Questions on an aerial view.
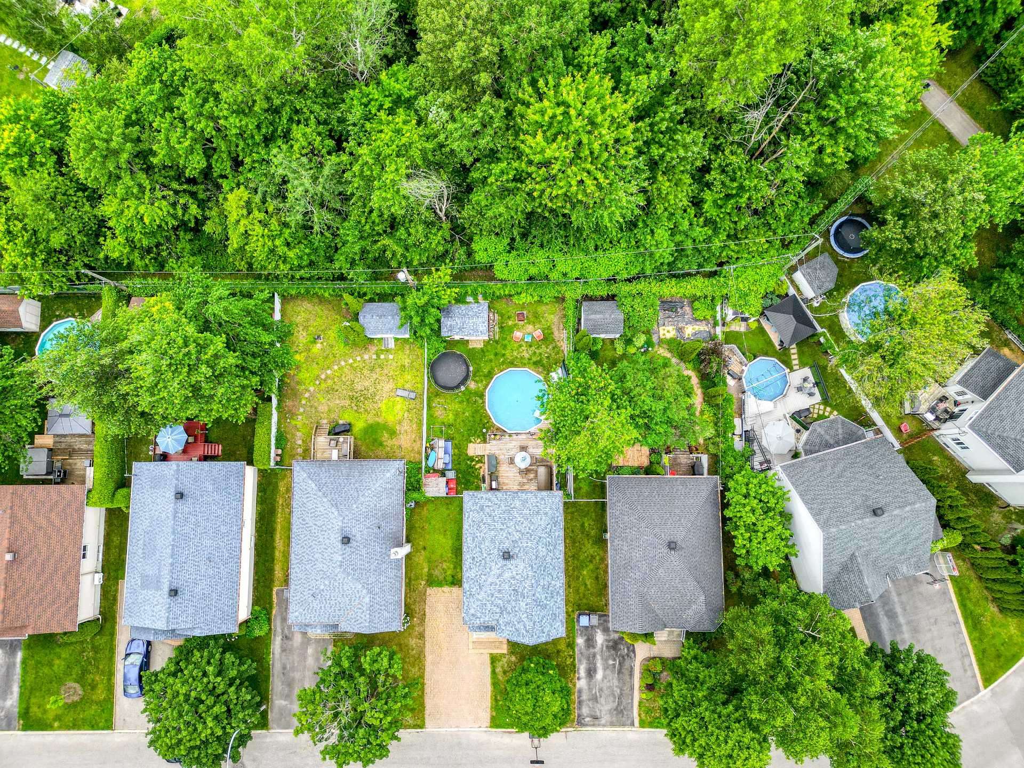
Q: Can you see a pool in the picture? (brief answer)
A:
Yes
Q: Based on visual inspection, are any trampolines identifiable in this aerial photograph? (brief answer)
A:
Yes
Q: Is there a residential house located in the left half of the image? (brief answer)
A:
Yes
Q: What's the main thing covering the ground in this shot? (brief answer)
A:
trees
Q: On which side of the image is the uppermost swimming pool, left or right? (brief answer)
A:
right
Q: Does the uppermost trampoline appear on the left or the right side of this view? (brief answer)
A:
right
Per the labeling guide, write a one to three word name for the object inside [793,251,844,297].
shed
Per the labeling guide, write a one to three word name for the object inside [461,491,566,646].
house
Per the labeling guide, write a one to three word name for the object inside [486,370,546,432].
swimming pool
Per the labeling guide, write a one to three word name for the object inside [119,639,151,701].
car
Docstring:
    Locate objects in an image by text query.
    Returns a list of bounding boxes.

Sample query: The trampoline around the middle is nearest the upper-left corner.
[427,347,472,393]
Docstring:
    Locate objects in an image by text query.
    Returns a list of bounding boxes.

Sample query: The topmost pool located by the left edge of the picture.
[37,317,99,397]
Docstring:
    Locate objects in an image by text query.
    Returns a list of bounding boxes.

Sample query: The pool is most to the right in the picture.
[835,279,910,348]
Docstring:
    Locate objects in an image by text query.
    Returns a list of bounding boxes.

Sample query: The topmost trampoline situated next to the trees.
[827,208,883,260]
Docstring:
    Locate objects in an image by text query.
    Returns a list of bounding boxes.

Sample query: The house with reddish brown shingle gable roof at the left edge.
[0,485,105,641]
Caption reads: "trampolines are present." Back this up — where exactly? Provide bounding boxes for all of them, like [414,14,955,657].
[427,347,472,393]
[827,208,883,260]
